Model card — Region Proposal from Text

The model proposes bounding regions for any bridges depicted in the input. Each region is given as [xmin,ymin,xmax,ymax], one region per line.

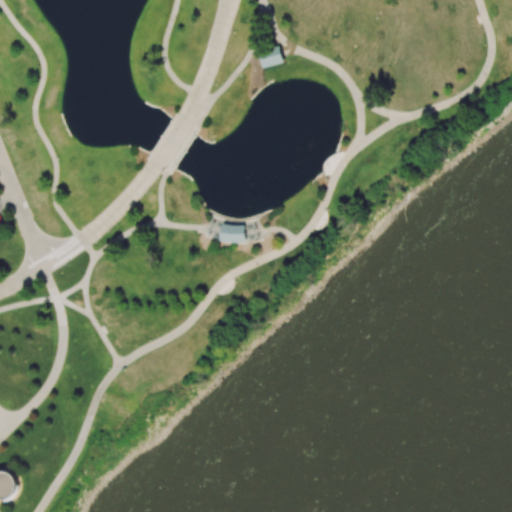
[144,106,204,174]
